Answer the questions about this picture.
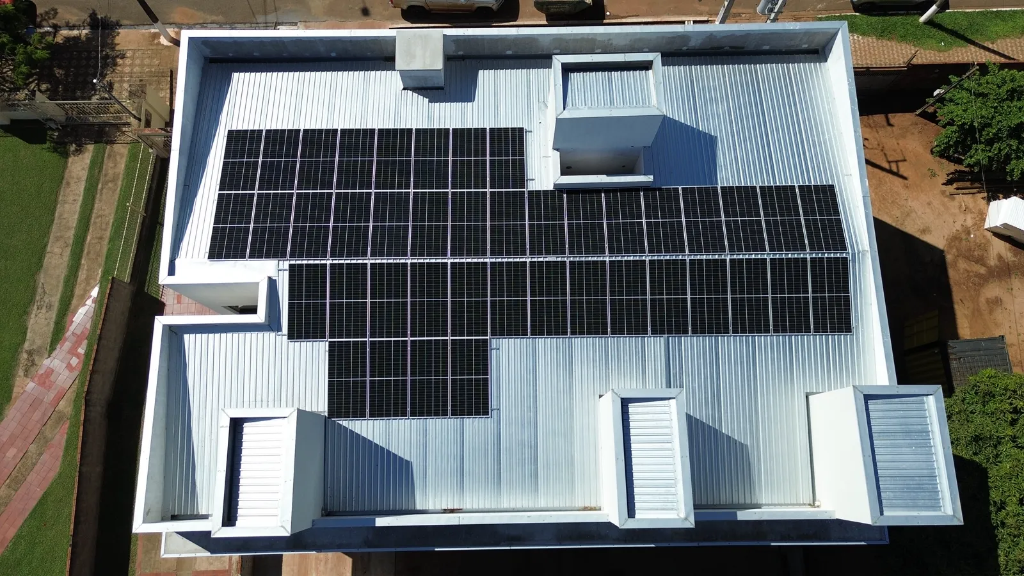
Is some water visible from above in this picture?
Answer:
No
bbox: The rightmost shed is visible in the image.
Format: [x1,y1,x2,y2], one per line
[977,198,1024,248]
